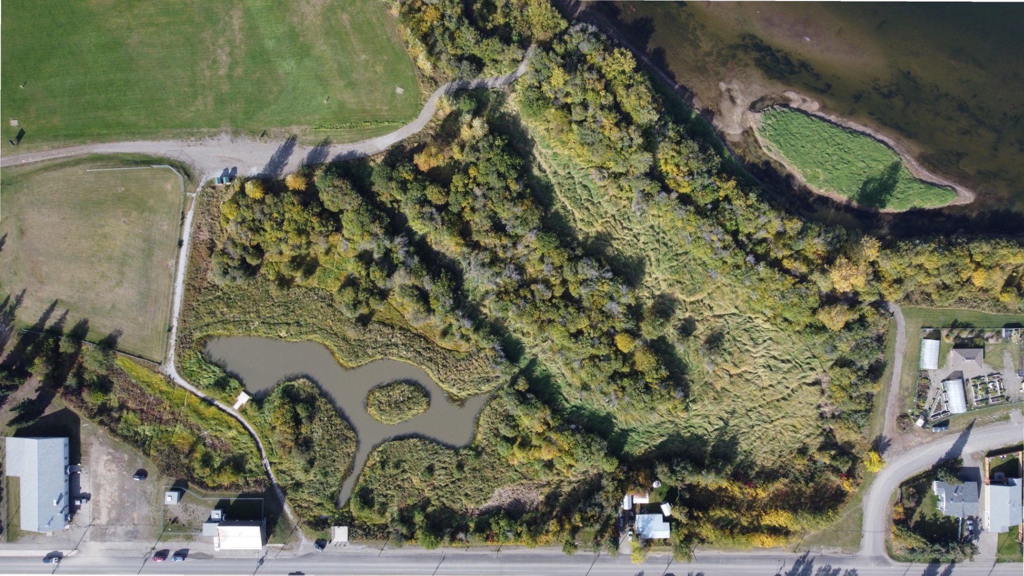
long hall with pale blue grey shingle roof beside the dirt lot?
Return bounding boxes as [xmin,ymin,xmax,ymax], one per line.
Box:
[8,437,81,534]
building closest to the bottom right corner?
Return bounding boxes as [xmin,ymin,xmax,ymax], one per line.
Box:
[983,483,1022,534]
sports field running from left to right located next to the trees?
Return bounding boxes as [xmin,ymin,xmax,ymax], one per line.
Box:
[0,0,420,154]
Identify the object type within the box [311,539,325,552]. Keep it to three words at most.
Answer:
vehicle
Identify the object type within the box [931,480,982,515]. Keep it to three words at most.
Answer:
house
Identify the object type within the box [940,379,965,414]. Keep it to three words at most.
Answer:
greenhouse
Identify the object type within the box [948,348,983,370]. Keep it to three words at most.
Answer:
building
